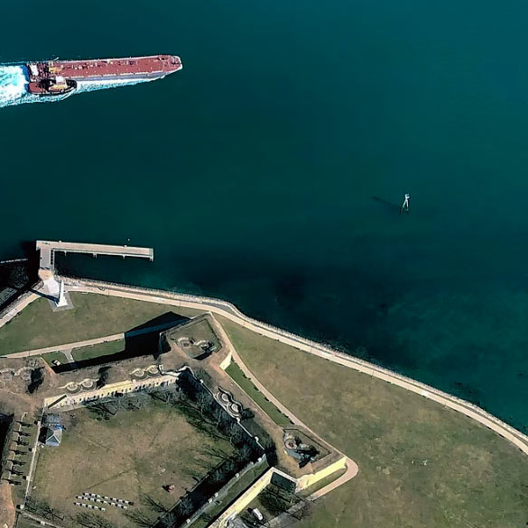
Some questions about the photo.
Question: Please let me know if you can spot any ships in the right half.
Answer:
No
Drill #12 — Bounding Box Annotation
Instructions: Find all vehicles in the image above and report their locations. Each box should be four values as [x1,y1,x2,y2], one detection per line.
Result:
[52,359,62,365]
[252,507,263,519]
[249,519,261,527]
